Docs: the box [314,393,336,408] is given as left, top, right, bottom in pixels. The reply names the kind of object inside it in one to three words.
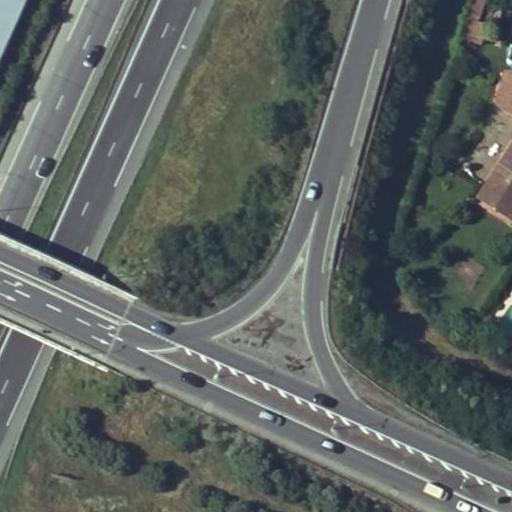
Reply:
car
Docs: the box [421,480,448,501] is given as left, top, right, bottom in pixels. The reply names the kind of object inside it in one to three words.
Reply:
vehicle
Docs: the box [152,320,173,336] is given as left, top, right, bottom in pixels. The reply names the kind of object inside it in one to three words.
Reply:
car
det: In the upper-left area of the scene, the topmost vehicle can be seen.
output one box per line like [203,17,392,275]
[86,46,100,66]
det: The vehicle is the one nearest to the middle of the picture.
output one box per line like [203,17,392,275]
[306,180,320,201]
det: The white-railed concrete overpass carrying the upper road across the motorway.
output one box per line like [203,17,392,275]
[0,236,138,377]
